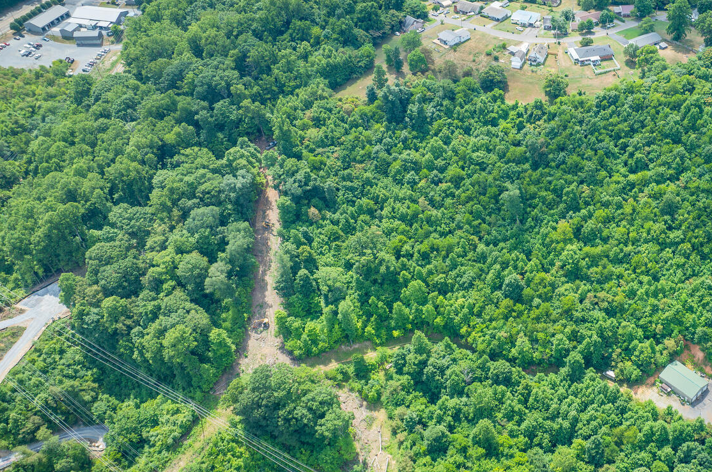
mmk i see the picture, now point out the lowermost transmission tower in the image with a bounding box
[182,393,209,432]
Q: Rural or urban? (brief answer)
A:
rural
